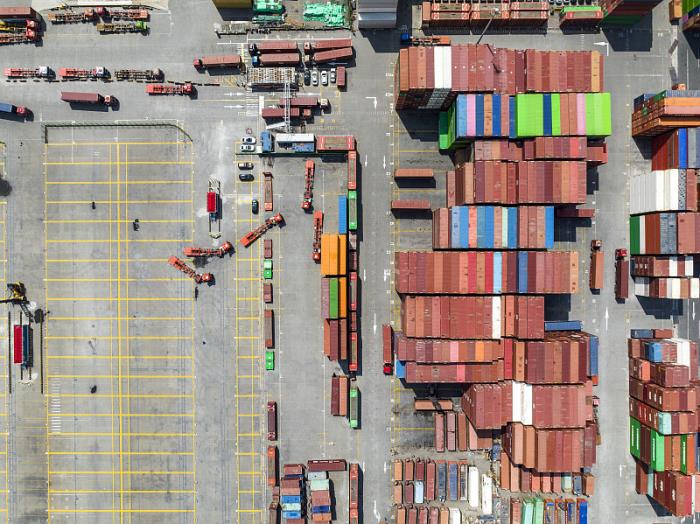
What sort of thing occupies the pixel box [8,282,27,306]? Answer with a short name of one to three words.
work vehicle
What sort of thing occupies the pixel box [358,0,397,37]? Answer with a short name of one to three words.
shed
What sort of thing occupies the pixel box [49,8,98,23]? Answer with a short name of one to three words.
vehicle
